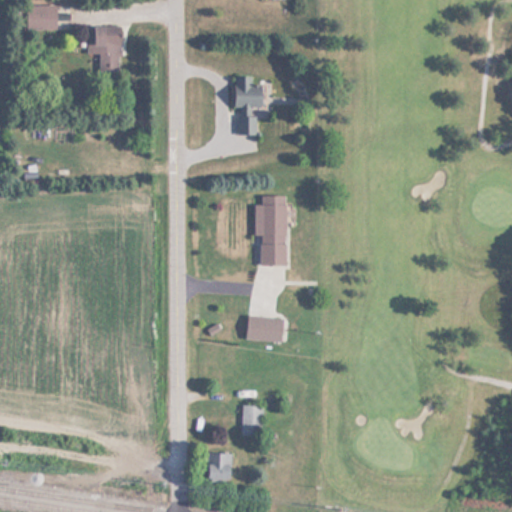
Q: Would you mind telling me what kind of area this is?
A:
golf course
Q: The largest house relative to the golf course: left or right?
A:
to the left of it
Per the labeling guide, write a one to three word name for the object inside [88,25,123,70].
house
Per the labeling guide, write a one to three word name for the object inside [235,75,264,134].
house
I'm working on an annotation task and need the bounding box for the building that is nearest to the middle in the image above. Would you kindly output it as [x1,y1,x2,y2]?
[256,196,288,266]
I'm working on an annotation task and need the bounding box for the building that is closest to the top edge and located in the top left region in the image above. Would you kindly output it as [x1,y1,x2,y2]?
[28,4,58,30]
